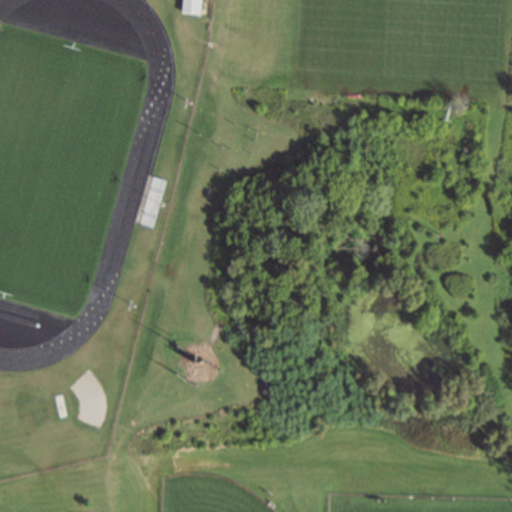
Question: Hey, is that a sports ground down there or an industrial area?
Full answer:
What you see here is a sports ground.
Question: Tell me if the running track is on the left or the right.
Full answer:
It is on the left.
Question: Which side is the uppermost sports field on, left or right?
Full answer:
The uppermost sports field is on the right side of the image.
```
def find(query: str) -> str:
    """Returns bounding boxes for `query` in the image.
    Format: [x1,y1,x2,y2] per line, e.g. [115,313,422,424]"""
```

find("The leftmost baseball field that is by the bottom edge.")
[162,473,276,512]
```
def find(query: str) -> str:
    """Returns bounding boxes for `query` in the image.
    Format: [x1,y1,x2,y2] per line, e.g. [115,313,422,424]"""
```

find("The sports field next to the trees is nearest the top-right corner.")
[289,0,507,93]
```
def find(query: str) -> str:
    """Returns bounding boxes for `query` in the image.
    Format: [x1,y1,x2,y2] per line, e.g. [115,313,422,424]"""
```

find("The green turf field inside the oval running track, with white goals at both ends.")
[0,22,149,321]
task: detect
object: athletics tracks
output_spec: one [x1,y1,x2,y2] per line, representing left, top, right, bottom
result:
[0,0,173,373]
